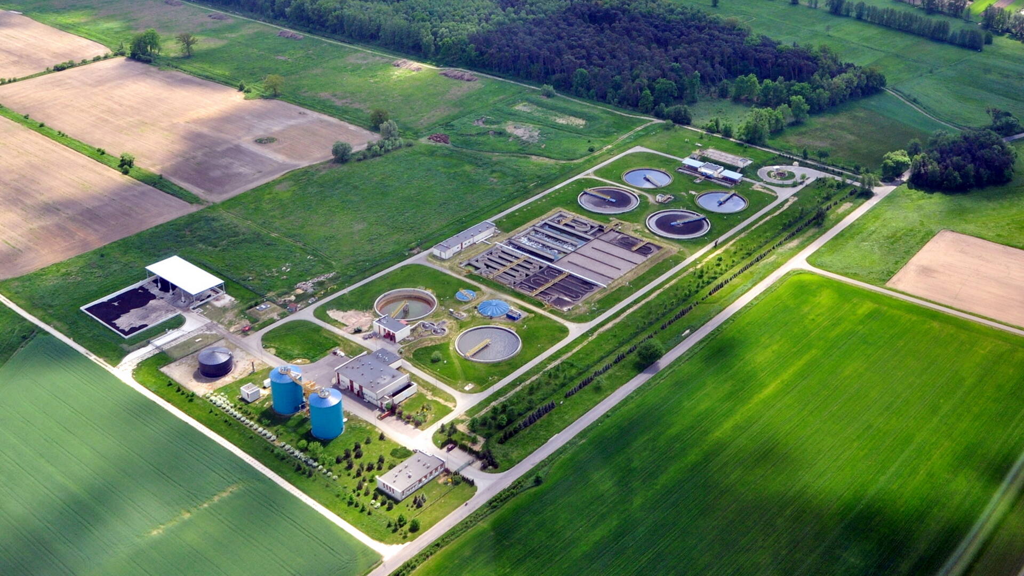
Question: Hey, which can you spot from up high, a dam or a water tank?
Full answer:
This aerial view contains a water tank.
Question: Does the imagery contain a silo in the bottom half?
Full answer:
Yes, a silo shows up in the bottom half.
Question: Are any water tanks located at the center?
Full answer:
Yes, there is a water tank at the center.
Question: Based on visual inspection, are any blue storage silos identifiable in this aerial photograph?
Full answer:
Yes, the image includes a blue storage silo.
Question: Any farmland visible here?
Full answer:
Yes, farmland can be seen from above here.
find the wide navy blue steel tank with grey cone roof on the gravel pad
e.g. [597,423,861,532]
[196,348,235,378]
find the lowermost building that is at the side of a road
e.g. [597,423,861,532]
[377,447,444,501]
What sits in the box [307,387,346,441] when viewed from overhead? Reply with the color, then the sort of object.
blue silo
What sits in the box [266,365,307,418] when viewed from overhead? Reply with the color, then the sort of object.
blue silo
